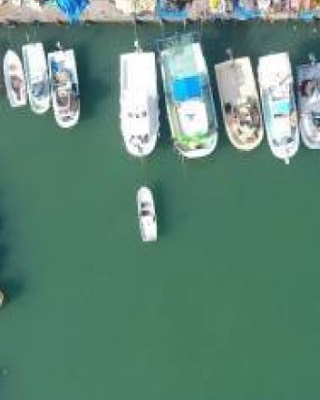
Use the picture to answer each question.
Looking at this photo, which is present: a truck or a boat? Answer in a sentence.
The one in the frame is a boat.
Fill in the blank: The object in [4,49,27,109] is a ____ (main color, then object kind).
white boat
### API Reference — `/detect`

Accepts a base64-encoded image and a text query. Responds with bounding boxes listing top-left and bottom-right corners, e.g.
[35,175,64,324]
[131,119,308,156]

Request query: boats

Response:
[298,56,320,149]
[117,42,162,158]
[153,21,221,159]
[214,49,263,151]
[48,44,78,129]
[139,186,156,246]
[4,49,27,109]
[256,51,298,161]
[21,35,49,115]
